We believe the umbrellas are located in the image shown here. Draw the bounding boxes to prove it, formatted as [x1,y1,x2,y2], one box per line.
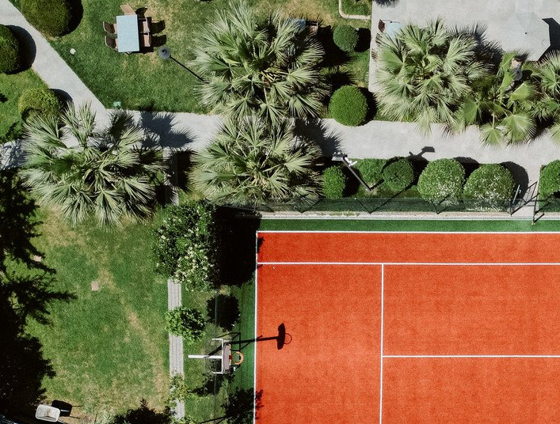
[502,11,550,59]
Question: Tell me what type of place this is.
sports ground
